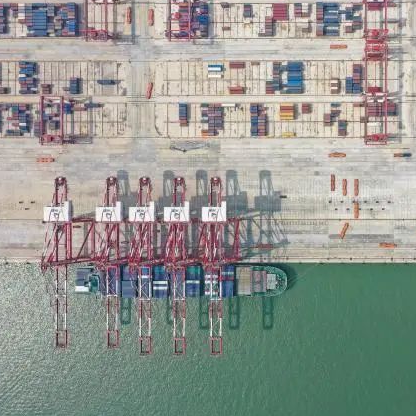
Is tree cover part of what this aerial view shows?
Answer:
No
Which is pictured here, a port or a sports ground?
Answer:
port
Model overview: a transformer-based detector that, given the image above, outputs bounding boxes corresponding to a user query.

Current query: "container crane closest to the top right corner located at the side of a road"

[362,0,388,42]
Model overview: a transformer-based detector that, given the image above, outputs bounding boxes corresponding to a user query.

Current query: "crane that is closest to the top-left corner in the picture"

[85,0,121,45]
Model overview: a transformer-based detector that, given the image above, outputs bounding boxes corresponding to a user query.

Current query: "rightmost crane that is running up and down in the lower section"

[201,174,243,355]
